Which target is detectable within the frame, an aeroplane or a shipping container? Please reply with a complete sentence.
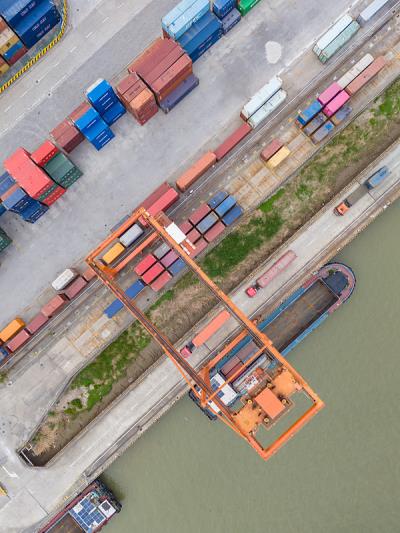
Of the two, only a shipping container appears.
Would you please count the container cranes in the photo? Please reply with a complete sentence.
I count just 1 container crane.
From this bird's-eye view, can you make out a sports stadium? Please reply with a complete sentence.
No, no sports stadium can be seen from above.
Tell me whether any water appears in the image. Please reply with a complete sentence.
Yes, water shows up in the scene.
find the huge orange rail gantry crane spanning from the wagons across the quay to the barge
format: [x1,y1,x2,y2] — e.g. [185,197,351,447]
[90,206,324,457]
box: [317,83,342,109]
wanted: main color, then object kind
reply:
pink shipping container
